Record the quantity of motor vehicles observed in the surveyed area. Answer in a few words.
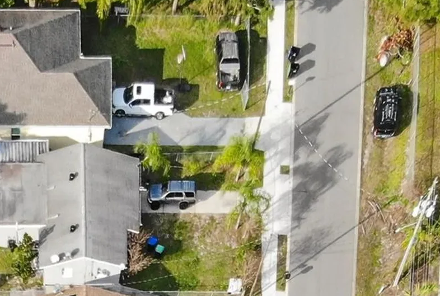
4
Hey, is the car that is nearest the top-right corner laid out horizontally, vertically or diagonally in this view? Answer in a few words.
vertically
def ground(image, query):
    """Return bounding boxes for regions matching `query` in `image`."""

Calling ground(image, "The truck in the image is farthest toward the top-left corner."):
[113,82,174,119]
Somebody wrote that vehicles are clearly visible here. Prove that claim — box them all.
[374,86,402,142]
[149,181,197,211]
[113,82,174,119]
[217,35,244,101]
